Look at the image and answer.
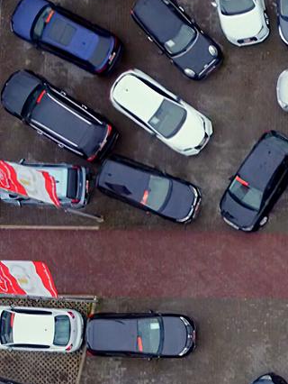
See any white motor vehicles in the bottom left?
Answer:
Yes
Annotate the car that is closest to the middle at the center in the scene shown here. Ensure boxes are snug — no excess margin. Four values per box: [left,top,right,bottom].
[97,153,202,225]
